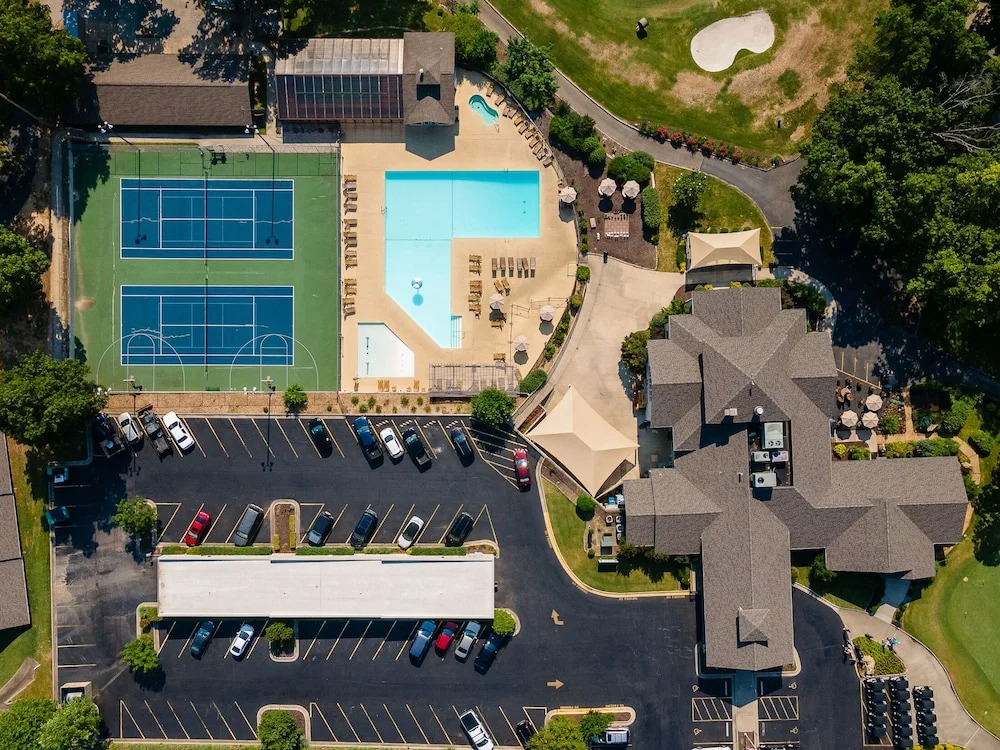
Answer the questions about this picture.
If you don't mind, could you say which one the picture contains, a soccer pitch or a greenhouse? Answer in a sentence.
Of the two, only a greenhouse appears.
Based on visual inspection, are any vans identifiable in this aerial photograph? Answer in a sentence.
Yes, I can see a van in this picture.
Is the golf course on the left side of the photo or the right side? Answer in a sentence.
The golf course appears in the right half of the scene.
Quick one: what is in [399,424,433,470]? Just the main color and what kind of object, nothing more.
black truck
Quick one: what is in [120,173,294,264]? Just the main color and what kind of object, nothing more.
blue tennis court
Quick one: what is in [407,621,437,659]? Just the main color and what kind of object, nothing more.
blue car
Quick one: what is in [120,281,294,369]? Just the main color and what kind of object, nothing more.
blue tennis court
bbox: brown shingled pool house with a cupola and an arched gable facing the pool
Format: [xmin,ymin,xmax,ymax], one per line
[402,32,457,127]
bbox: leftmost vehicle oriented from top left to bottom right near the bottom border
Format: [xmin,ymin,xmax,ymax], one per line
[458,709,493,750]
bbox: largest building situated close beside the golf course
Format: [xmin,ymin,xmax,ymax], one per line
[624,286,967,669]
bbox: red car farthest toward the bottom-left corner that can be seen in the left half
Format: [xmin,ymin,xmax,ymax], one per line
[184,509,212,545]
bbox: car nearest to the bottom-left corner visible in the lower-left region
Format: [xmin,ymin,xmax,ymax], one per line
[188,620,216,657]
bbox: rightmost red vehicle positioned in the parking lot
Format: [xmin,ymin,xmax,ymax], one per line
[512,448,530,487]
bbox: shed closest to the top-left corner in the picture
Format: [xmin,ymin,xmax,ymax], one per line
[67,55,251,128]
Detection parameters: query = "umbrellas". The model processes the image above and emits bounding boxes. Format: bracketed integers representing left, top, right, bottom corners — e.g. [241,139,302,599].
[622,181,640,197]
[840,410,856,427]
[540,307,555,321]
[560,187,576,203]
[489,294,504,309]
[514,336,528,351]
[865,395,882,410]
[599,179,616,196]
[861,412,878,428]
